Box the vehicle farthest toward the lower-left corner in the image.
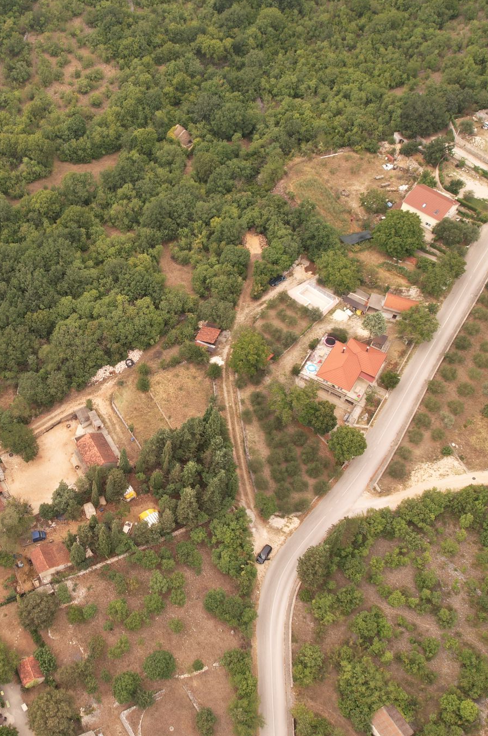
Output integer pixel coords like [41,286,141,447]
[21,530,49,548]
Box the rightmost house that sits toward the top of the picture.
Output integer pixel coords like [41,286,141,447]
[401,184,458,237]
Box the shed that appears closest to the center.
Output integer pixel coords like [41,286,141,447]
[195,324,220,352]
